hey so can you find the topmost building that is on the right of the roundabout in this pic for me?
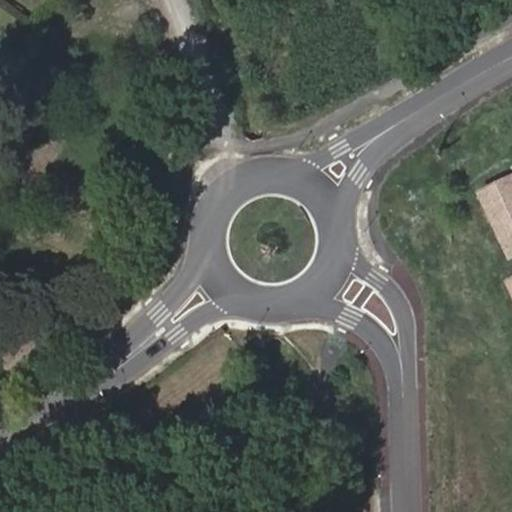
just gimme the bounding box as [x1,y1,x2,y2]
[476,176,512,261]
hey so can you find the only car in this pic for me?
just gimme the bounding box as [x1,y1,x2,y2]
[146,340,165,357]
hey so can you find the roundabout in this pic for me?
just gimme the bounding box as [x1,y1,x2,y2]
[188,158,357,321]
